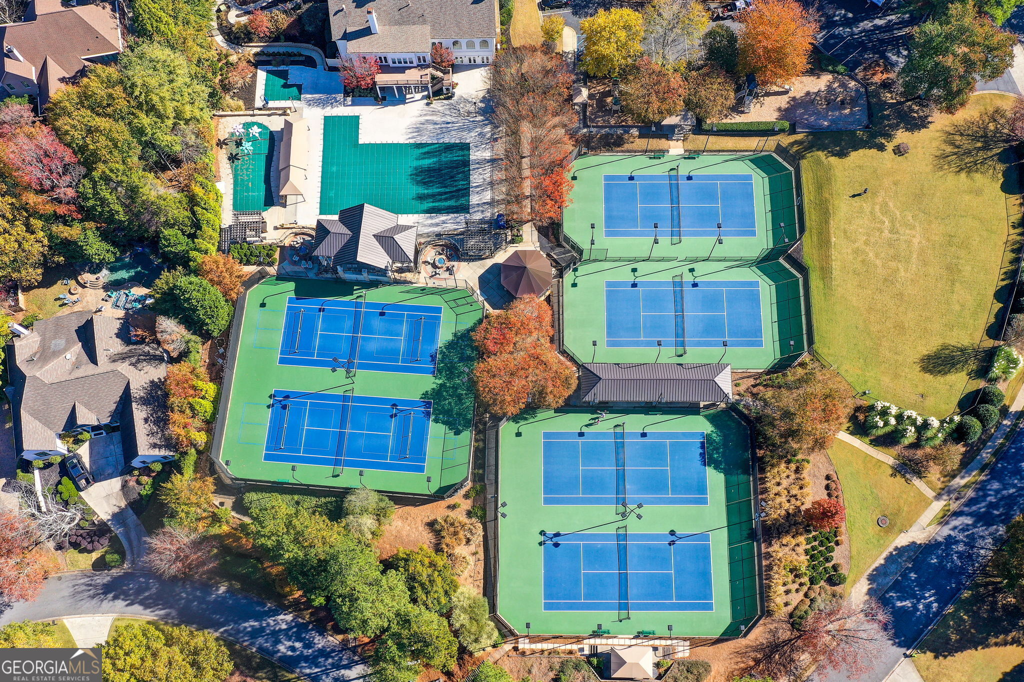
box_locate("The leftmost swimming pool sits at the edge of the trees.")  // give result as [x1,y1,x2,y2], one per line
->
[105,251,161,291]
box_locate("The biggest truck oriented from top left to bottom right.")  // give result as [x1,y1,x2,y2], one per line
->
[65,452,96,488]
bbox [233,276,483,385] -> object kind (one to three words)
tennis court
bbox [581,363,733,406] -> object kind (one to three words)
building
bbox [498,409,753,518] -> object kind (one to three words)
tennis court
